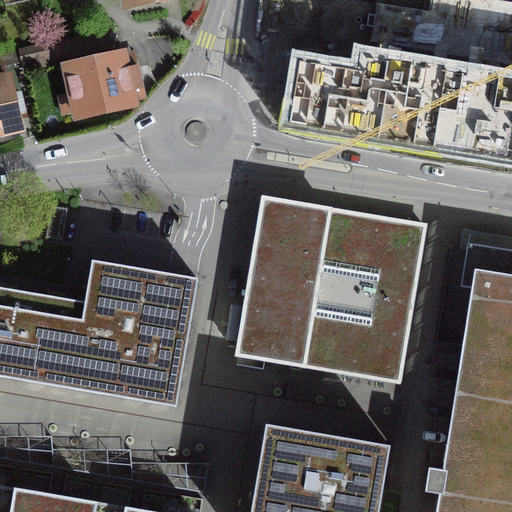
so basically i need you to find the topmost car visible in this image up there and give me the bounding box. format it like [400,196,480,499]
[170,76,187,100]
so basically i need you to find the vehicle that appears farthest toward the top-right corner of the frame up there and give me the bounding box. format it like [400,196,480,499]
[421,164,446,176]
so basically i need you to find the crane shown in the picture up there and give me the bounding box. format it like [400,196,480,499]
[300,64,512,170]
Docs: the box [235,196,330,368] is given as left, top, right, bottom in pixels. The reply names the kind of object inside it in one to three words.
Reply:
building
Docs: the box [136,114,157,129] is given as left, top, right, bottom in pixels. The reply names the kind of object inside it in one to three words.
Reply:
car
